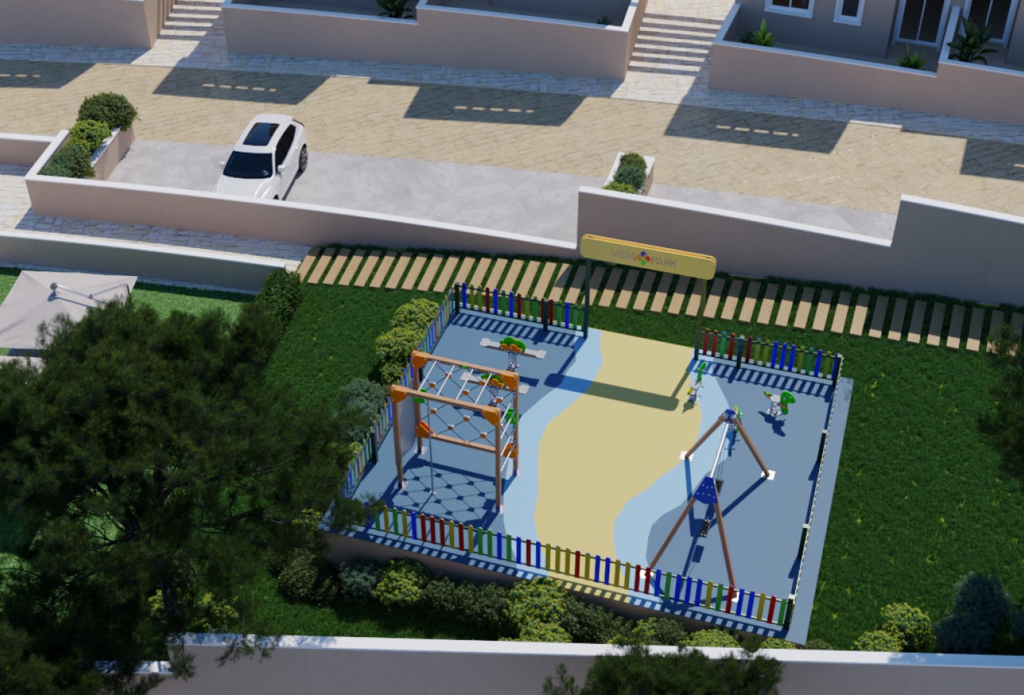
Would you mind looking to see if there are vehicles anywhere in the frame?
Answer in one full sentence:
Yes, a vehicle can be made out from above.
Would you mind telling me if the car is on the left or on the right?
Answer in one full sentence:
The car sits on the left side.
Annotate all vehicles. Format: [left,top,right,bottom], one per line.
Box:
[211,116,311,206]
